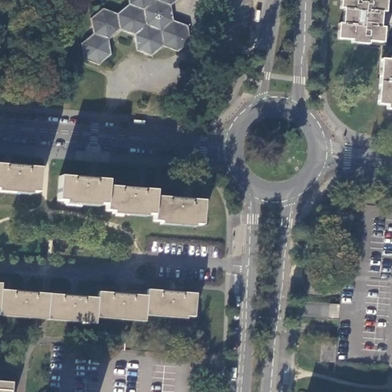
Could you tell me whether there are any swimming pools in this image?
No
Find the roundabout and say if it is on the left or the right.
right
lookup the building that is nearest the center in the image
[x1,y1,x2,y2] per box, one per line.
[57,174,210,232]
